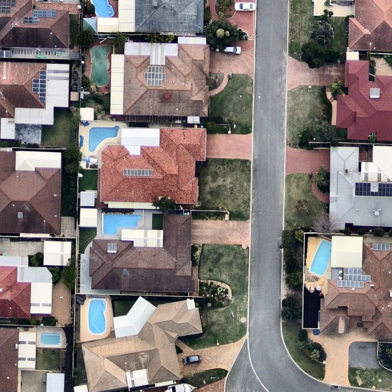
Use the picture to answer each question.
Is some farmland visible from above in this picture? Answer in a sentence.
No, the picture contains no farmland.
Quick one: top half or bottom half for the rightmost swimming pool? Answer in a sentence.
It is in the bottom half that the rightmost swimming pool appears.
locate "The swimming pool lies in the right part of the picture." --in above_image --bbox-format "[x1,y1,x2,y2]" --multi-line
[308,238,332,277]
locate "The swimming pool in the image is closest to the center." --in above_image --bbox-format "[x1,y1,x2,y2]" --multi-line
[102,214,143,236]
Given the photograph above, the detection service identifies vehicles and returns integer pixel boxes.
[234,2,255,11]
[182,354,202,364]
[222,46,242,55]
